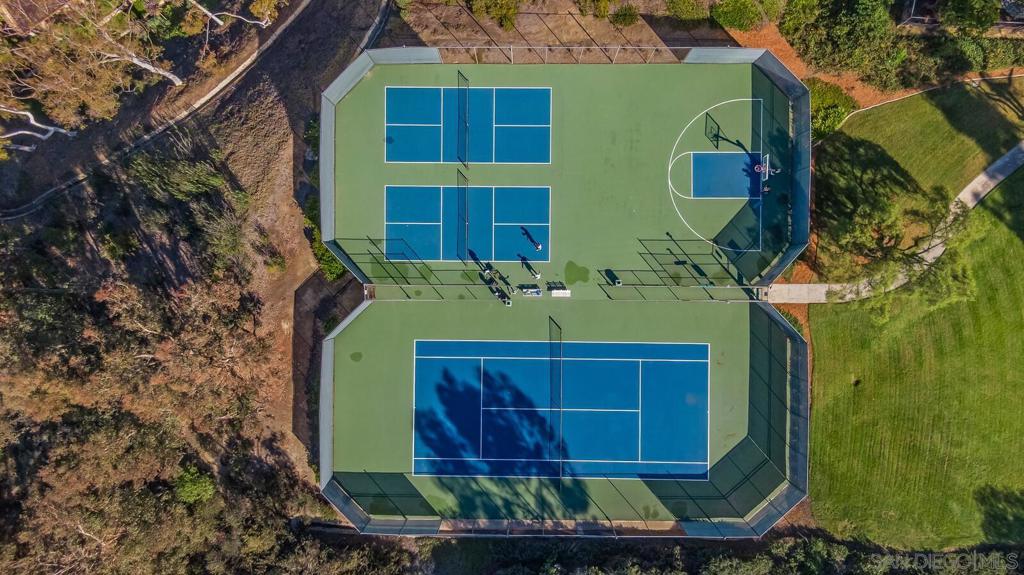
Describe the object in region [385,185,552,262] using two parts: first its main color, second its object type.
blue sports court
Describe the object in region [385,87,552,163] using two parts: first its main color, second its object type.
blue sports court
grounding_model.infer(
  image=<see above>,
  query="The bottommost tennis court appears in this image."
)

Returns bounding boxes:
[413,340,710,480]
